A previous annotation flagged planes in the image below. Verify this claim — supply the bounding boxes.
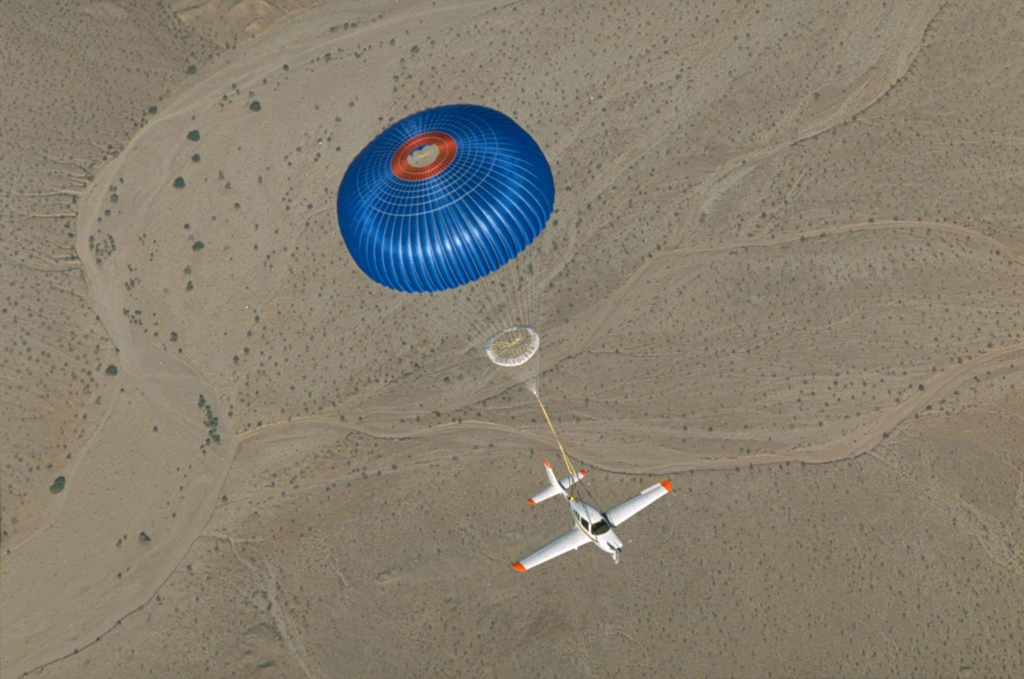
[513,455,678,568]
